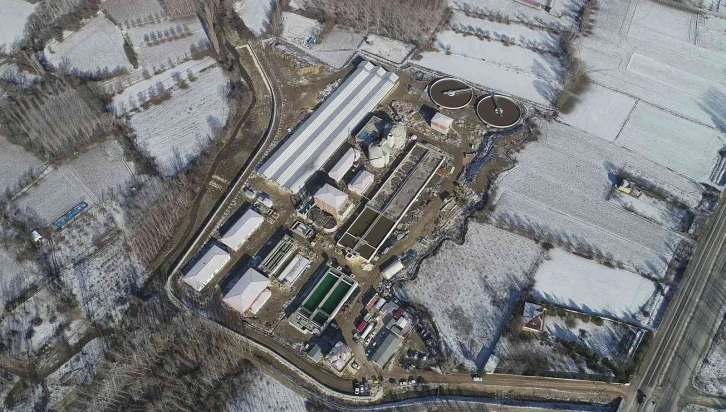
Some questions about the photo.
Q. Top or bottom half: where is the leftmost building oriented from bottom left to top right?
bottom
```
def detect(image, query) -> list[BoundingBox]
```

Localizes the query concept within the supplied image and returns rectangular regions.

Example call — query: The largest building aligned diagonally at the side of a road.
[258,63,397,198]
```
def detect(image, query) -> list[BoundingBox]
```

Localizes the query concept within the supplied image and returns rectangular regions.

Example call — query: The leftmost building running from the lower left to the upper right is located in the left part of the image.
[183,245,232,294]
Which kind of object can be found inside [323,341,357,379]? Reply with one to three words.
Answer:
house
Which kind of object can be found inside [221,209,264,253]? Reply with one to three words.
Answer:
building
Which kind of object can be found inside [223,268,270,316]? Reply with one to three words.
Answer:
building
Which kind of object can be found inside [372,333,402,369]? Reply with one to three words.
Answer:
shed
